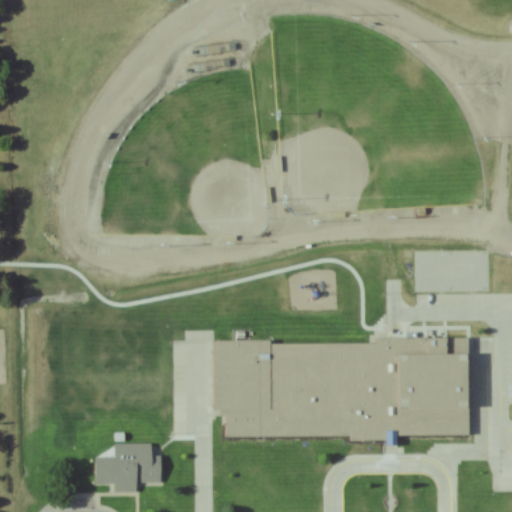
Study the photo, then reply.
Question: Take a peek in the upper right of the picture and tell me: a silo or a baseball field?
baseball field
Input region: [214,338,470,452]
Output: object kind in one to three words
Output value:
building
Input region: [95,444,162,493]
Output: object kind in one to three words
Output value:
house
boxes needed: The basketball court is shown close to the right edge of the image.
[414,250,488,292]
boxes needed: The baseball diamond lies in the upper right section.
[271,16,484,215]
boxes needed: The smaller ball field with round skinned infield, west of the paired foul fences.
[102,66,267,237]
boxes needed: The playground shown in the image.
[290,270,338,310]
